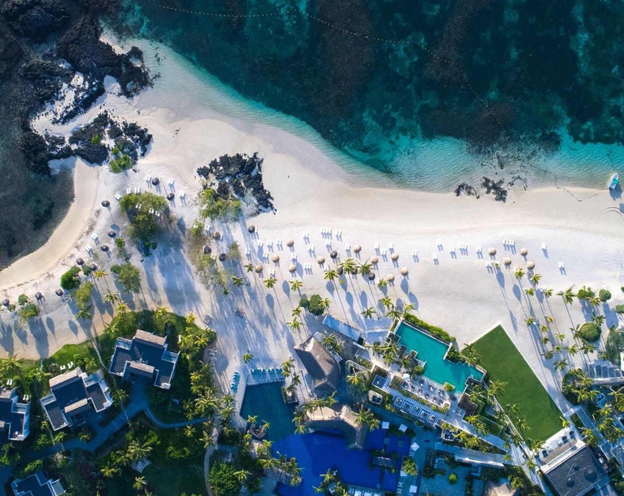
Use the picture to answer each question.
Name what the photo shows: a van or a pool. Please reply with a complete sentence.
Visible in the photo is a pool.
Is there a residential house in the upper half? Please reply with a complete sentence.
No, I can find no residential house in the upper half.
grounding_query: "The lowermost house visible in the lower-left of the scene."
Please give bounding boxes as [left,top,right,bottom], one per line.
[15,468,66,496]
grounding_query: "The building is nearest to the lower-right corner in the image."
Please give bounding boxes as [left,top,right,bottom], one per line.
[538,428,611,496]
